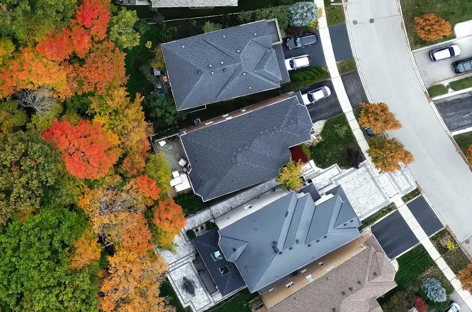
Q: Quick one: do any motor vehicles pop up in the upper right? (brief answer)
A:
Yes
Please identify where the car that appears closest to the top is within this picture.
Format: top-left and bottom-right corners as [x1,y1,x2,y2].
[284,31,320,50]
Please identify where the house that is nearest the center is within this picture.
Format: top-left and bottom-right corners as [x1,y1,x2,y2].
[178,90,313,202]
